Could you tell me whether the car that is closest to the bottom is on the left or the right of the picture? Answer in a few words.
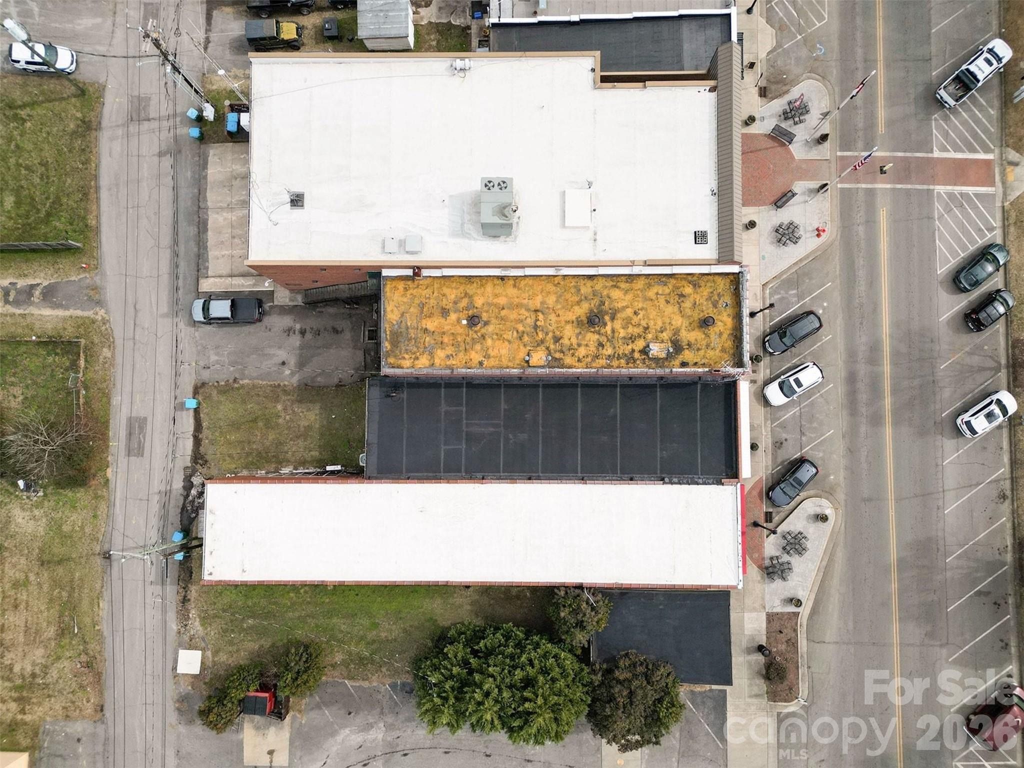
right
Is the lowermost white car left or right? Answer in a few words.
right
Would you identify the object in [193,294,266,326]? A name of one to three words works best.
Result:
truck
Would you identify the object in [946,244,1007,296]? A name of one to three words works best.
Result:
car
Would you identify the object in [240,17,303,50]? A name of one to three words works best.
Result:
car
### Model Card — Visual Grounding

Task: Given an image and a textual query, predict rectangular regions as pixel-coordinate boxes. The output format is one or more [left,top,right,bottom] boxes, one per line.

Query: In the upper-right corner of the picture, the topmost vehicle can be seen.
[934,43,1008,108]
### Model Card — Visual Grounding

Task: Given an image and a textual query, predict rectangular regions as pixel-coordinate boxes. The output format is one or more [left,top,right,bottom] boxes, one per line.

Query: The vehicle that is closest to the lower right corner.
[970,683,1024,749]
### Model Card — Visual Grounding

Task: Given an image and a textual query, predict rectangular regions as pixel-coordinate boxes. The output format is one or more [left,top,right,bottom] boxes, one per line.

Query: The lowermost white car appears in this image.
[950,390,1015,439]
